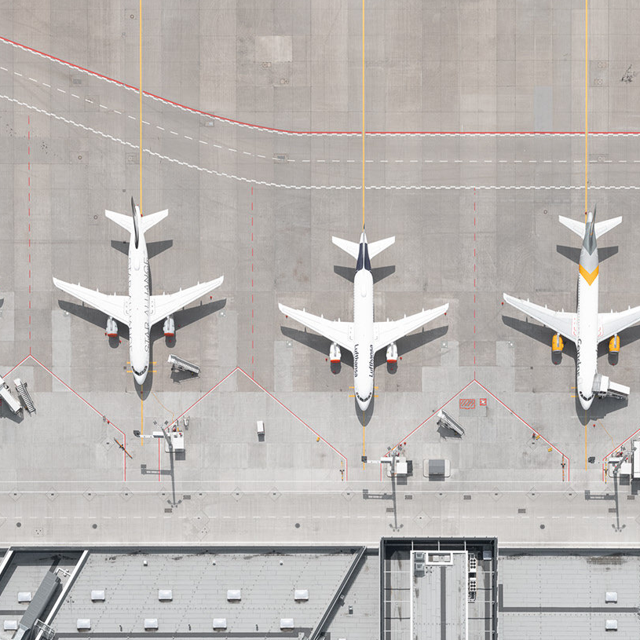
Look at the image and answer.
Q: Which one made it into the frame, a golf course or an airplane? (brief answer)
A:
airplane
